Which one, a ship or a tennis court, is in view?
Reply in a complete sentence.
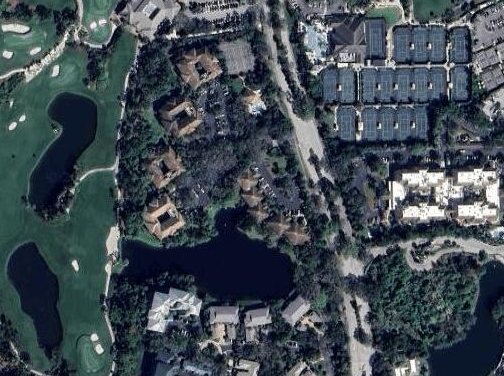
Of the two, only a tennis court appears.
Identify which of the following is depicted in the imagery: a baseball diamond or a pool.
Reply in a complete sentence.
This aerial view contains a pool.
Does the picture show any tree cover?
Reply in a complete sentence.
Yes, some tree cover is visible.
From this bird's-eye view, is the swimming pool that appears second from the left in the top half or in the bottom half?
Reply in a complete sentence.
The swimming pool that appears second from the left sits in the top half of the picture.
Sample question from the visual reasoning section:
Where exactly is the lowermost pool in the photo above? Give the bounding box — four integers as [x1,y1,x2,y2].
[490,227,504,240]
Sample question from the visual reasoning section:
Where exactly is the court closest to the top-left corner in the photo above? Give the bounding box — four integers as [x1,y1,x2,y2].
[224,42,255,75]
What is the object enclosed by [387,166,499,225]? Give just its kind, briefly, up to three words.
building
